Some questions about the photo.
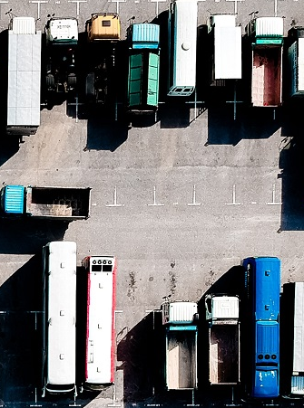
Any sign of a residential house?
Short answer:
No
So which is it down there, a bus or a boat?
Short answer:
bus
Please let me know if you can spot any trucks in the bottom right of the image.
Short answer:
Yes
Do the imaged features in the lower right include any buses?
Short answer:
Yes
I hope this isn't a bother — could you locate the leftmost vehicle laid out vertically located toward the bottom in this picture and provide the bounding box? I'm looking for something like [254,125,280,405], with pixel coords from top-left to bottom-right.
[41,240,77,395]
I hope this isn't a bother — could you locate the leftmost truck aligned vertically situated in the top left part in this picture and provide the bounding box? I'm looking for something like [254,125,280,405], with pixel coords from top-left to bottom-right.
[4,10,40,133]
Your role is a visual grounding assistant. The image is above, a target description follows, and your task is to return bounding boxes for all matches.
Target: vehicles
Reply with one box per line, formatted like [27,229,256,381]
[243,10,286,110]
[79,256,116,394]
[164,0,198,106]
[283,20,304,99]
[4,10,40,133]
[202,7,241,86]
[43,12,81,92]
[41,240,77,395]
[0,182,90,221]
[203,289,240,385]
[122,16,163,119]
[240,256,281,404]
[159,293,200,390]
[81,6,122,103]
[281,282,304,397]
